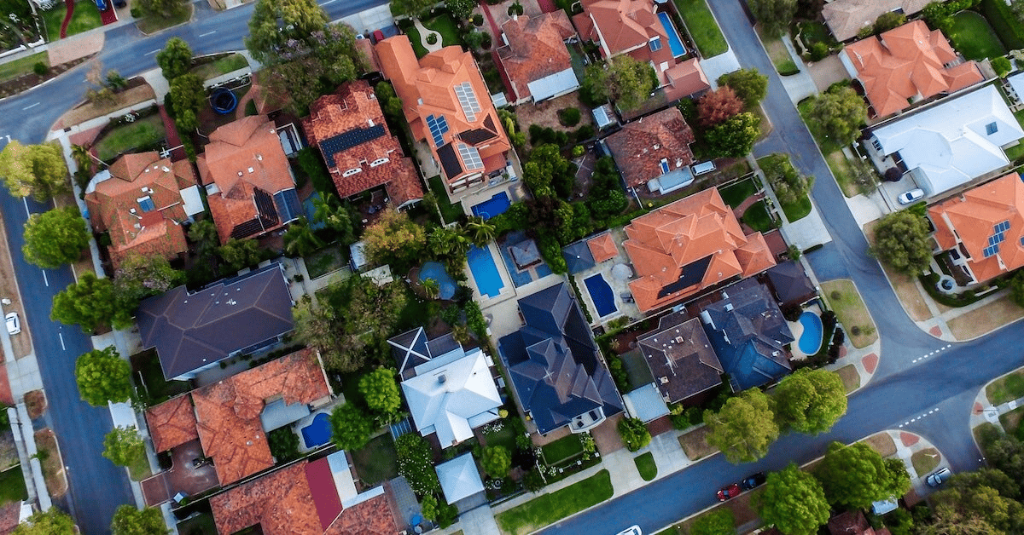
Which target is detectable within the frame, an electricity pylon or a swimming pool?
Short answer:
swimming pool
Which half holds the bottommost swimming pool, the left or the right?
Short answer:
left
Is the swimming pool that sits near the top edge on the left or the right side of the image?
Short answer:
right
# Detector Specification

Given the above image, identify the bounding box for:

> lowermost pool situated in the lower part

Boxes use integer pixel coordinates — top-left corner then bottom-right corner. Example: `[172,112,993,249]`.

[299,411,338,451]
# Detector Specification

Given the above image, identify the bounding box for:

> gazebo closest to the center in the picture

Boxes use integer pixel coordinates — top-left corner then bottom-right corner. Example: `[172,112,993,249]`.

[509,239,540,270]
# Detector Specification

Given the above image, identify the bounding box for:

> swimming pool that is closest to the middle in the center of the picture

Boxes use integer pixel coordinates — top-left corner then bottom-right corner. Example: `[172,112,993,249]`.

[467,243,506,299]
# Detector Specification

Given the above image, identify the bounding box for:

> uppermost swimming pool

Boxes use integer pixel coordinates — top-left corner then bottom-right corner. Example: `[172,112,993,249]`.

[662,13,687,59]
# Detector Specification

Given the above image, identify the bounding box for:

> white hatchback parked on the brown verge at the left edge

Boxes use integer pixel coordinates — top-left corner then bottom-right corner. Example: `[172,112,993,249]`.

[5,310,21,335]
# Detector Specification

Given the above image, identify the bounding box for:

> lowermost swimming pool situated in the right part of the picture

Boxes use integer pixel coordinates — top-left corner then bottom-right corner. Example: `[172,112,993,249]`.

[797,310,829,356]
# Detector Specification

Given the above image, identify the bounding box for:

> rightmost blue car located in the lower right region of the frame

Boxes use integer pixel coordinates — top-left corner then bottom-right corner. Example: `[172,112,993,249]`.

[925,467,952,486]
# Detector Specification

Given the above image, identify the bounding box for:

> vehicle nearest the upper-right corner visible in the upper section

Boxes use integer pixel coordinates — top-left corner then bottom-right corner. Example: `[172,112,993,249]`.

[897,189,924,204]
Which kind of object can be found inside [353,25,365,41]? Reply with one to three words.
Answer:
vehicle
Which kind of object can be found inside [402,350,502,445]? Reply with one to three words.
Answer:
house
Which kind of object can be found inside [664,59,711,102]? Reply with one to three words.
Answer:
building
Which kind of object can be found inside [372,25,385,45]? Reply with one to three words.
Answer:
vehicle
